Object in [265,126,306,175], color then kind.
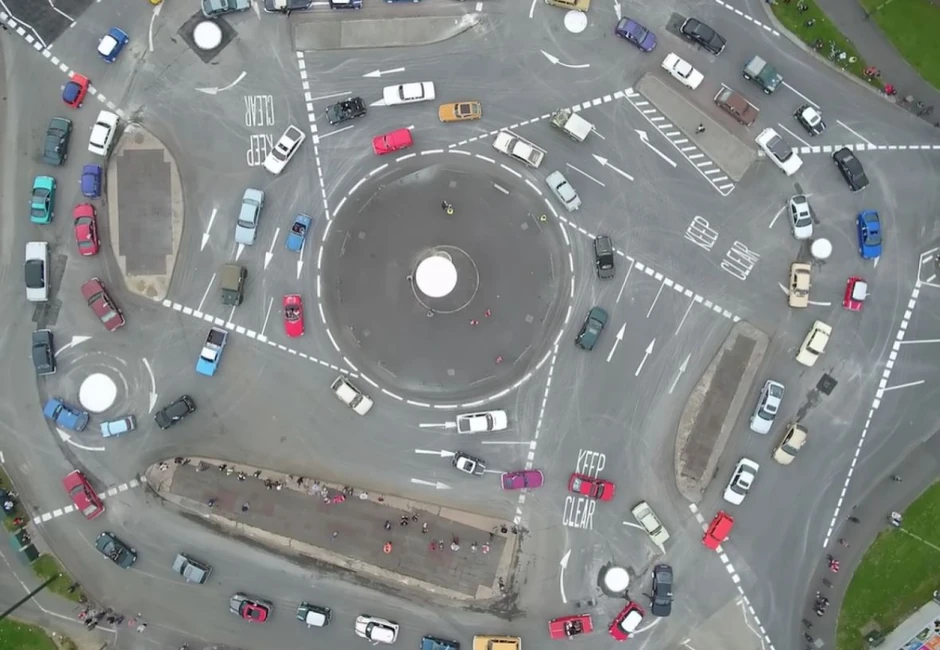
white car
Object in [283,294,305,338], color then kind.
red car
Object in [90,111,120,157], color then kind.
white car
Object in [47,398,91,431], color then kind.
blue car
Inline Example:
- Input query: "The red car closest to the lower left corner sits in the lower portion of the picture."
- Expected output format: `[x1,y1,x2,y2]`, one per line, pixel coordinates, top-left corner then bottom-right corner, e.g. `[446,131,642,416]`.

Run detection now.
[65,470,106,519]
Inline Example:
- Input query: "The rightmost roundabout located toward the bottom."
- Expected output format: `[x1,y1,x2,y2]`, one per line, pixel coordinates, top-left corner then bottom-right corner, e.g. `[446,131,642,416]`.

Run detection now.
[601,565,632,595]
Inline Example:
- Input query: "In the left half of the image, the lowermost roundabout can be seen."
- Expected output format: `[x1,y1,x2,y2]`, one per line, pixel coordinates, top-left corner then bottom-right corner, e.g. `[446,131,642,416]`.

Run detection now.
[74,370,121,417]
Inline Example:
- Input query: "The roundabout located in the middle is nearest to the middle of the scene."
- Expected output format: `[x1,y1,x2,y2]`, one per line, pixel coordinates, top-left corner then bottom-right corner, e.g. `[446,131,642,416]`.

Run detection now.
[317,150,575,408]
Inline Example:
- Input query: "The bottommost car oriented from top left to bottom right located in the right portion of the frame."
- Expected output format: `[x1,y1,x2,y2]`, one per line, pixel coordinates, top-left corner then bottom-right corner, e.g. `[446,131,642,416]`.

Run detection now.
[632,500,669,544]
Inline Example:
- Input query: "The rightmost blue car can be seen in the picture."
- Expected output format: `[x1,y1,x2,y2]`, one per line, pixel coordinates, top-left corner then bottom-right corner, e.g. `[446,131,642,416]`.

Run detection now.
[857,210,885,260]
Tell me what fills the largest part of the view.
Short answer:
paved ground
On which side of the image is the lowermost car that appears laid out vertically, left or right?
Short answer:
right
